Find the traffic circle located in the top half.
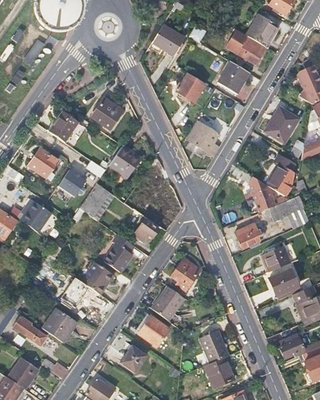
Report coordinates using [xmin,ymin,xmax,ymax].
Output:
[94,12,123,41]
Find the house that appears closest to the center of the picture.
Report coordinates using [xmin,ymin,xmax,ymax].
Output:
[134,218,162,245]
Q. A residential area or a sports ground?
residential area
